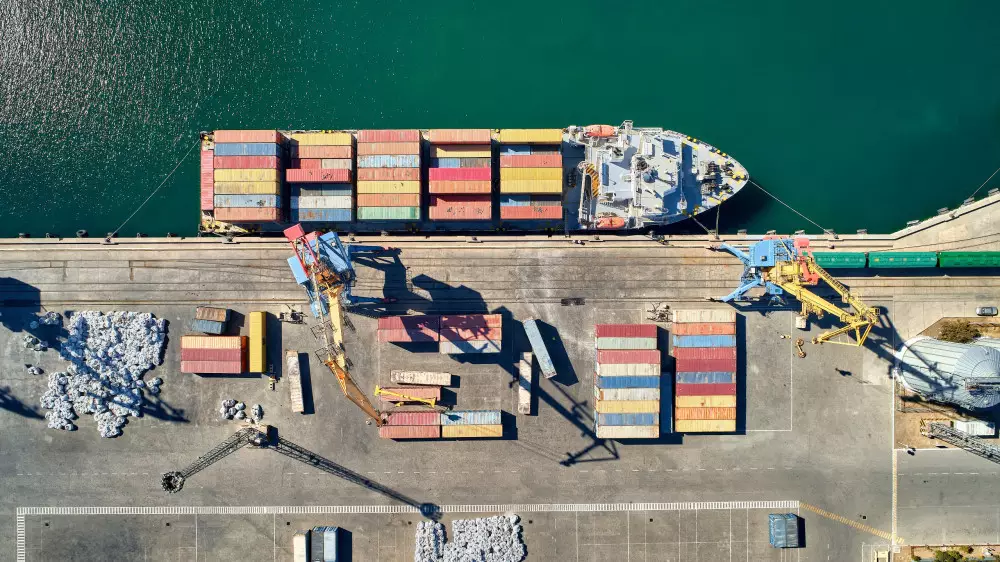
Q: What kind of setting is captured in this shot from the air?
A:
port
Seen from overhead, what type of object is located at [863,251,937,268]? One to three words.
rail car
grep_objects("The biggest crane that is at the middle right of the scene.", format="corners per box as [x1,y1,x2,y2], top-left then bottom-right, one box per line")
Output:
[706,233,897,355]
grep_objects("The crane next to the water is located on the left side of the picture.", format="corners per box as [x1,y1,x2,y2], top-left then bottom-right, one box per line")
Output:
[284,221,405,429]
